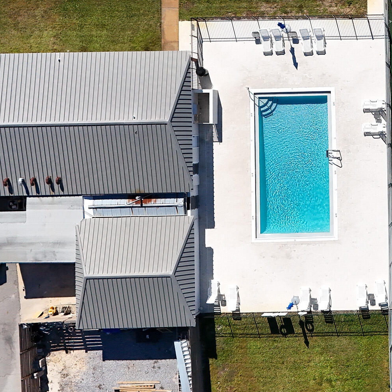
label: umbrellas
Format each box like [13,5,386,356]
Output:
[286,297,299,309]
[276,23,292,35]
